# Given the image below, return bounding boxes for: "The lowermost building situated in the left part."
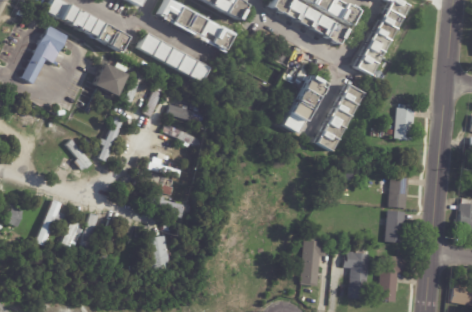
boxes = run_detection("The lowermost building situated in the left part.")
[154,236,170,268]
